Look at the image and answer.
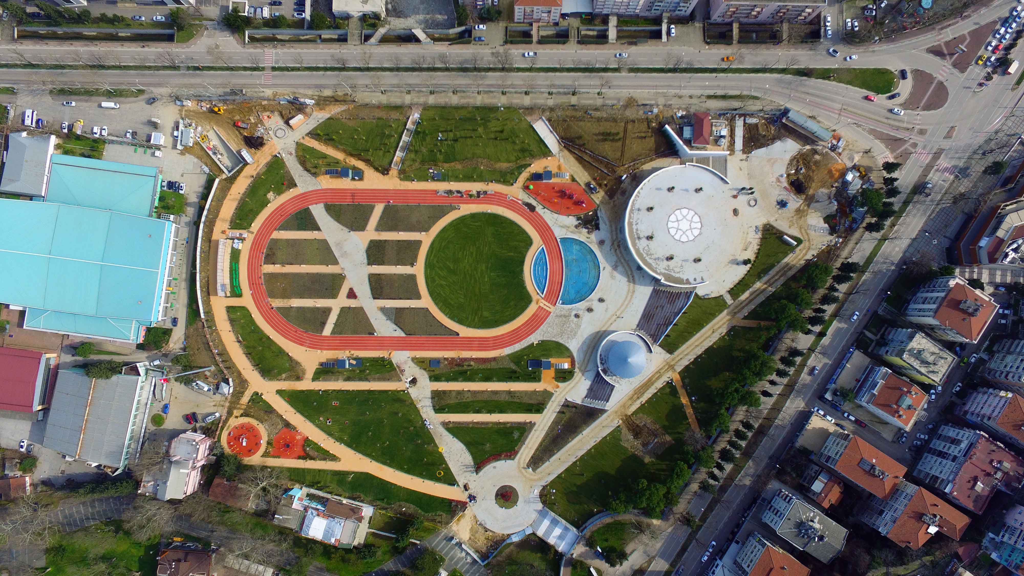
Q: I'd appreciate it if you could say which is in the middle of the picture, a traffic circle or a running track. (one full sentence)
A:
There is a running track in the middle of the picture.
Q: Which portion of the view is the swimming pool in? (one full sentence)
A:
The swimming pool sits in the center section of the image.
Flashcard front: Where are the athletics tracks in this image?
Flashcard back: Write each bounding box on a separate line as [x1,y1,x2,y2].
[246,188,564,352]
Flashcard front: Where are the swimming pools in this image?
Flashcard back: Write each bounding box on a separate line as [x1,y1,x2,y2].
[530,236,601,307]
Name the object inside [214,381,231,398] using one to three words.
gazebo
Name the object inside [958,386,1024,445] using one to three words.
building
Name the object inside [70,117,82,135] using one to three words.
vehicle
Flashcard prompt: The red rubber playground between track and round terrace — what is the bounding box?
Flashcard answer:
[524,182,597,215]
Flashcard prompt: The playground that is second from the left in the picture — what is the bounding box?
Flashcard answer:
[271,425,307,459]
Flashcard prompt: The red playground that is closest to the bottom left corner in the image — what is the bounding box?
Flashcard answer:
[226,422,262,458]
